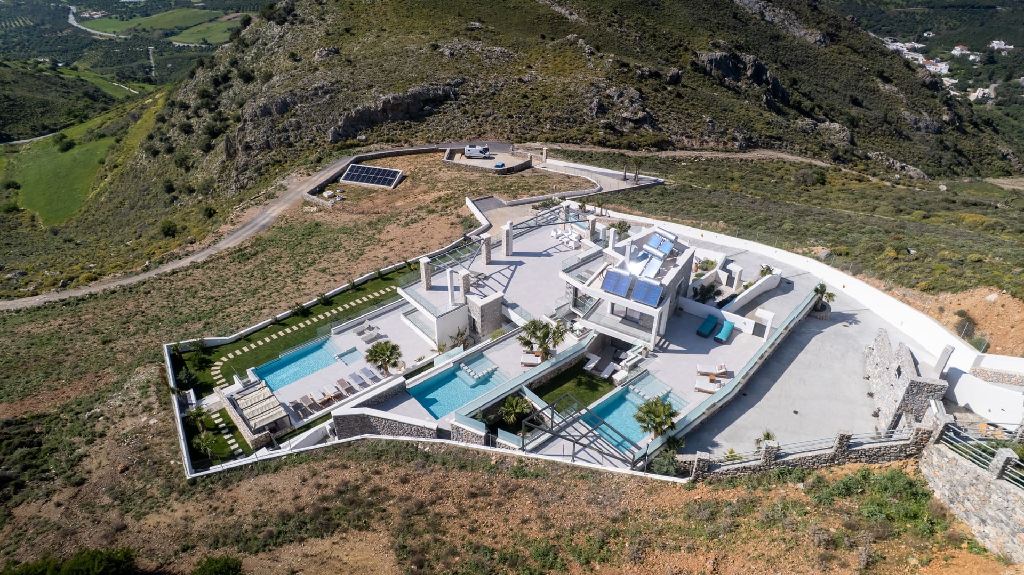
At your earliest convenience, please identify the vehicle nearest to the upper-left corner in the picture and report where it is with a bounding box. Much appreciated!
[463,144,492,160]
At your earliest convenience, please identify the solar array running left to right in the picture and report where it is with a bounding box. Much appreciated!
[341,164,404,192]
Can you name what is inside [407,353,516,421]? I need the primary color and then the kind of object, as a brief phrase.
blue swimming pool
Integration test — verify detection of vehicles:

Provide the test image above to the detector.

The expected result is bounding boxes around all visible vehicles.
[494,159,506,169]
[463,144,492,160]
